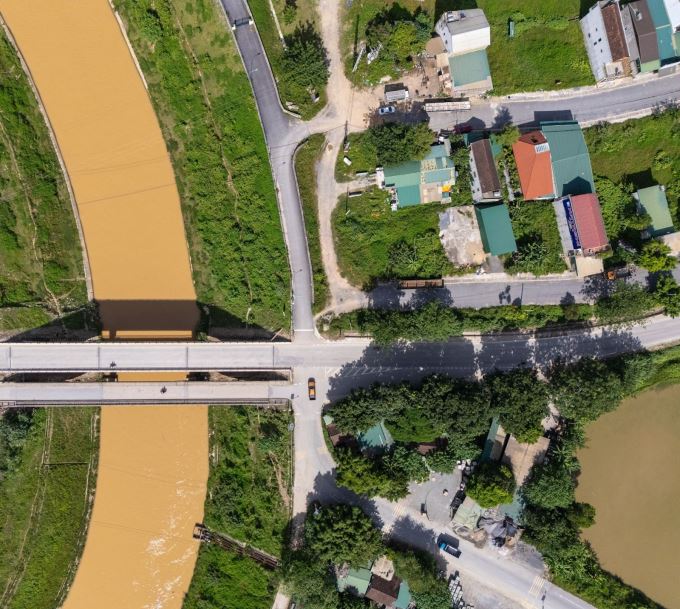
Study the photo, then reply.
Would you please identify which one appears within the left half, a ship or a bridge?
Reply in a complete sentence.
There is a bridge within the left half.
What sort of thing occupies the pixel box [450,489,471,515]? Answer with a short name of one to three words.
truck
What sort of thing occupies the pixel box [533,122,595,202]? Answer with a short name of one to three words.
barn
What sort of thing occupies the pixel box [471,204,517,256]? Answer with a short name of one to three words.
house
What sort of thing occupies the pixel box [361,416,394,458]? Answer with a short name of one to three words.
shed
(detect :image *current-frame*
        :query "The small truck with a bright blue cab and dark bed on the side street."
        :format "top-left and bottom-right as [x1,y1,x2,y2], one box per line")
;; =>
[438,540,464,562]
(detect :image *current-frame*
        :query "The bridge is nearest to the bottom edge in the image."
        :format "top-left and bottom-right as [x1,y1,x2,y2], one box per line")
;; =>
[0,379,292,406]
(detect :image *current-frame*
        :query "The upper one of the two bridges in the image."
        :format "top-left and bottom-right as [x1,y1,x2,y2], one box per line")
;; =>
[0,342,294,374]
